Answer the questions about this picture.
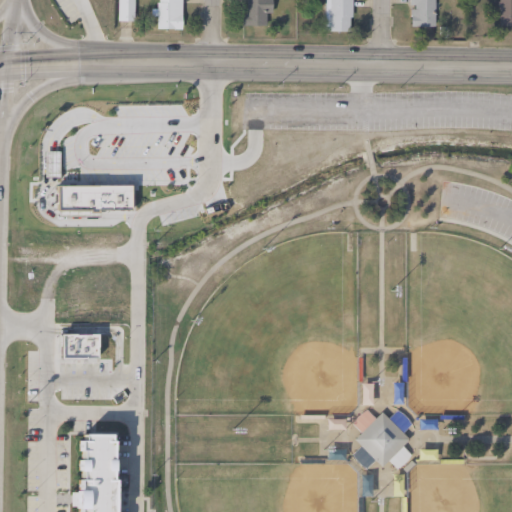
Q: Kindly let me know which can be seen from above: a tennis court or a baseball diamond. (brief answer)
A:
baseball diamond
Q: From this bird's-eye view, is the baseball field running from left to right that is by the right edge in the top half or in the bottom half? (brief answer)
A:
bottom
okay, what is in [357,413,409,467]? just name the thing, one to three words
building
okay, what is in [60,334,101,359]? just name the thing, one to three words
building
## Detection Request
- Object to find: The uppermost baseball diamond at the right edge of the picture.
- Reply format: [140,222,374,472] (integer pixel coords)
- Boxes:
[407,233,512,414]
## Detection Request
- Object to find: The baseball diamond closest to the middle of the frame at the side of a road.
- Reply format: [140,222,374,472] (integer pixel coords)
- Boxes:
[178,233,359,414]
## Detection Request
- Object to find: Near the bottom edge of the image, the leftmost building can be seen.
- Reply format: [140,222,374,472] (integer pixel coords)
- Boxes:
[70,432,122,512]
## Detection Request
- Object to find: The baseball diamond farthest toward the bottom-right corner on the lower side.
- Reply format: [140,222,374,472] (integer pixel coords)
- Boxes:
[409,464,512,512]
